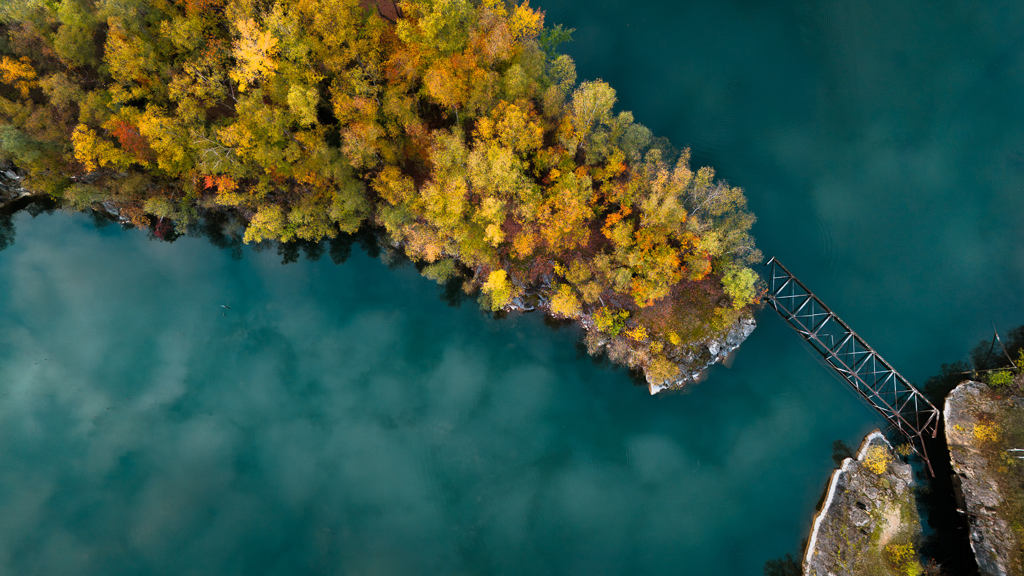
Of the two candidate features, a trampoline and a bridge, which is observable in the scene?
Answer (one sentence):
The image shows a bridge.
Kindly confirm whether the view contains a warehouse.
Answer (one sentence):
No, this view has no warehouse in it.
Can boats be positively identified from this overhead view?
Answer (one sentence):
No, the scene contains no boat.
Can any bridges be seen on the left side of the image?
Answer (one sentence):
No, I see no bridge on the left side of the image.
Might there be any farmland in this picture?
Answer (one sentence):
No, there's no farmland in this view.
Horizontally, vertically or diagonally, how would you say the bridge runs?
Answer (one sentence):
The bridge is oriented diagonally.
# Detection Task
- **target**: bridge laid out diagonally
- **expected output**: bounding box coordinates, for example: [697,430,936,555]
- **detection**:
[763,257,941,478]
